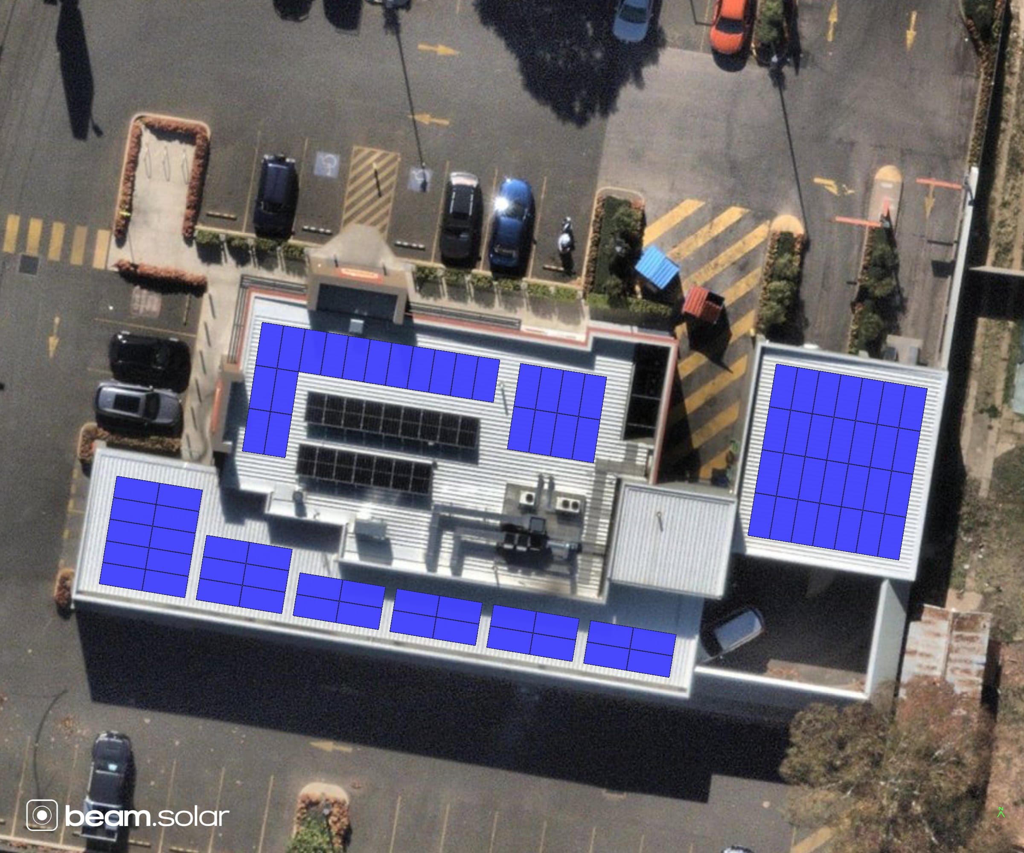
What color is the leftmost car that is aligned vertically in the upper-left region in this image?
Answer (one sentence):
The color of the leftmost car that is aligned vertically in the upper-left region is black.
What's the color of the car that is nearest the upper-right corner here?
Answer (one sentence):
From above, the car that is nearest the upper-right corner appears red.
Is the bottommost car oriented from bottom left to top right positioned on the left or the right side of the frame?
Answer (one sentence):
It is on the right.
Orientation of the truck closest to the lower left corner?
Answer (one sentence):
What the image shows is the truck closest to the lower left corner lying up and down.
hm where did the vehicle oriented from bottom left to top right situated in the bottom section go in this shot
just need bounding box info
[699,603,771,665]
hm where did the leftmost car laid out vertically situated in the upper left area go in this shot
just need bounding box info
[254,151,296,240]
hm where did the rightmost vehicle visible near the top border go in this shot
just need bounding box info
[710,0,752,57]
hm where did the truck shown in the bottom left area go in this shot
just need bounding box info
[81,728,129,843]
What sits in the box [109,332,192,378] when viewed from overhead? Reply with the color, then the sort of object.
black car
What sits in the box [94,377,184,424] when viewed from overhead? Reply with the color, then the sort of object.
gray car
